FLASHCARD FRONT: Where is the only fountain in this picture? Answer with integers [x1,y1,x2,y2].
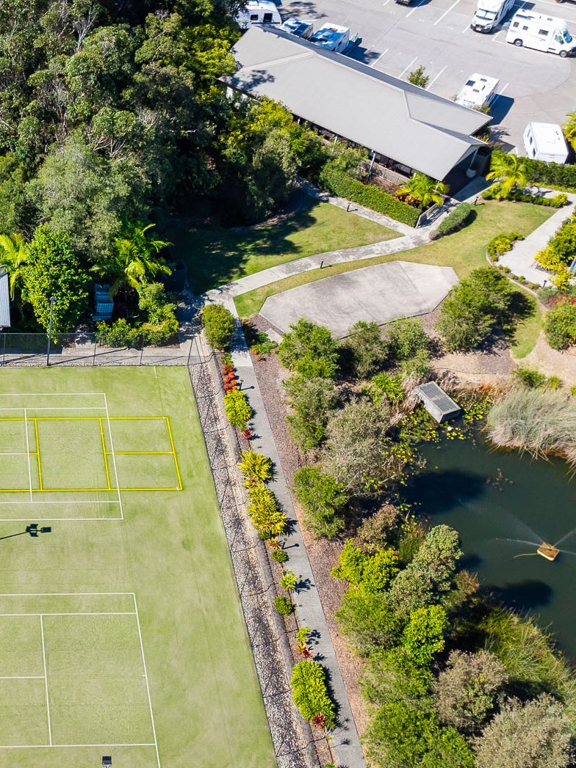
[515,542,559,559]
